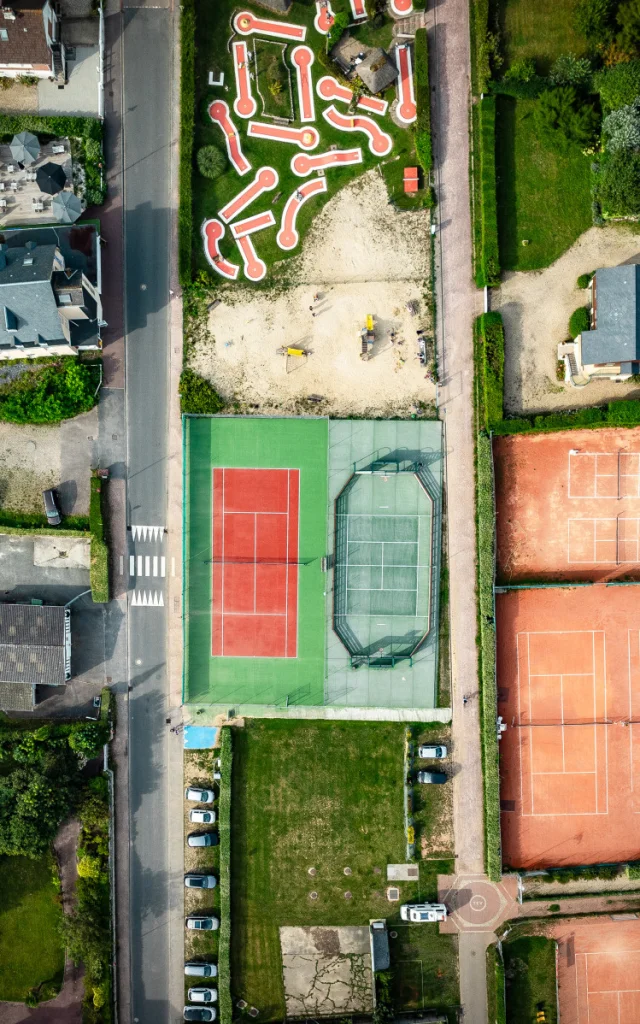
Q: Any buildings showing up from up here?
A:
Yes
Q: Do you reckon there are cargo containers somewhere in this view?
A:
No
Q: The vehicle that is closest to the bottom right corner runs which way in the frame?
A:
from left to right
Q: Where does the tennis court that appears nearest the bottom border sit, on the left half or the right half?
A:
right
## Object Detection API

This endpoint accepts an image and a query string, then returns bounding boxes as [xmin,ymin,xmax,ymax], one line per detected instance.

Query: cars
[187,829,219,847]
[187,983,218,1002]
[183,1001,217,1021]
[185,912,220,932]
[417,768,448,785]
[418,742,447,759]
[185,784,216,803]
[43,489,64,526]
[184,871,217,890]
[188,806,217,824]
[184,958,218,978]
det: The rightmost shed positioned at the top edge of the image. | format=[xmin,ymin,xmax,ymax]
[356,48,399,96]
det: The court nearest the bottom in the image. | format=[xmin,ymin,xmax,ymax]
[557,915,640,1024]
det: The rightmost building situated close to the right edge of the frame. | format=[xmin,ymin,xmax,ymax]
[557,261,640,384]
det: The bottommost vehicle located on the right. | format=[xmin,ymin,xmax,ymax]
[400,900,448,921]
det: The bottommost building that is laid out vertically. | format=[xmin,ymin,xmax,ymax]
[371,917,389,1018]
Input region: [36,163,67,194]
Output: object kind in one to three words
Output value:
umbrella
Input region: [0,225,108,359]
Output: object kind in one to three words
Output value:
building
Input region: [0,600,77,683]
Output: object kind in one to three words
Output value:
building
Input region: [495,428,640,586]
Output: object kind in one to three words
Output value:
tennis court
